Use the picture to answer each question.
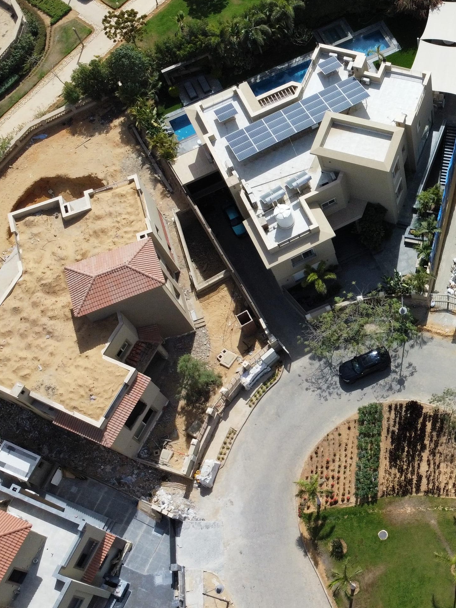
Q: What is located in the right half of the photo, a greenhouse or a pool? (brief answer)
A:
pool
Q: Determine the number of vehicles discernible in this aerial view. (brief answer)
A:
2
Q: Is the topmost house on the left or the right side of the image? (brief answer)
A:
right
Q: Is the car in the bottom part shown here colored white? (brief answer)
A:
No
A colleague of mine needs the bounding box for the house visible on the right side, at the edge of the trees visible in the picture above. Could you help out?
[169,43,435,290]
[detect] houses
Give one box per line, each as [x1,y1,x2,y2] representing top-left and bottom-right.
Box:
[0,442,137,608]
[0,174,190,455]
[169,43,435,290]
